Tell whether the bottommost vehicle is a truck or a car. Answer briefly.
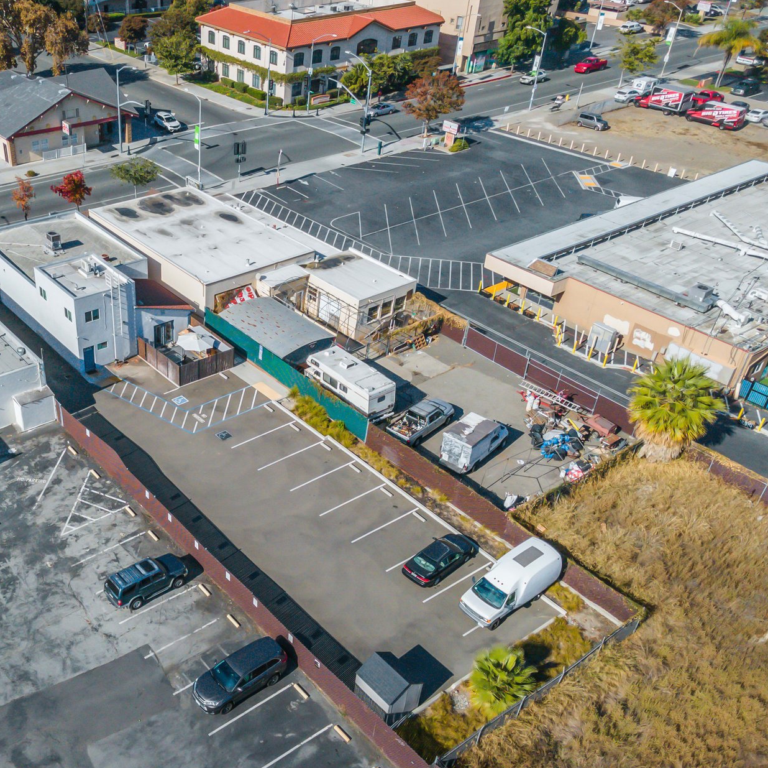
car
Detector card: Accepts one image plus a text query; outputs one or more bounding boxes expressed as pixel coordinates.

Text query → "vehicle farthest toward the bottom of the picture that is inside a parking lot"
[185,634,291,719]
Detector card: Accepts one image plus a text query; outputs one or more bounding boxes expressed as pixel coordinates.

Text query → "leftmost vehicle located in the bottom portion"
[103,550,195,612]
